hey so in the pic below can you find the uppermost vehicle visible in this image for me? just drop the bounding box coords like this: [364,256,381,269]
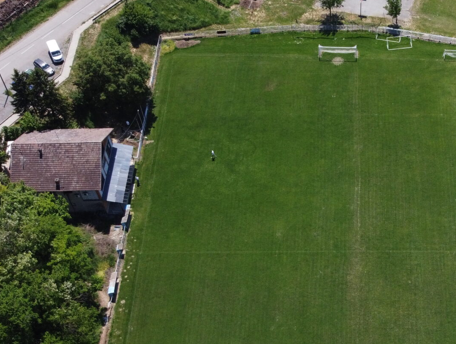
[46,36,64,61]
